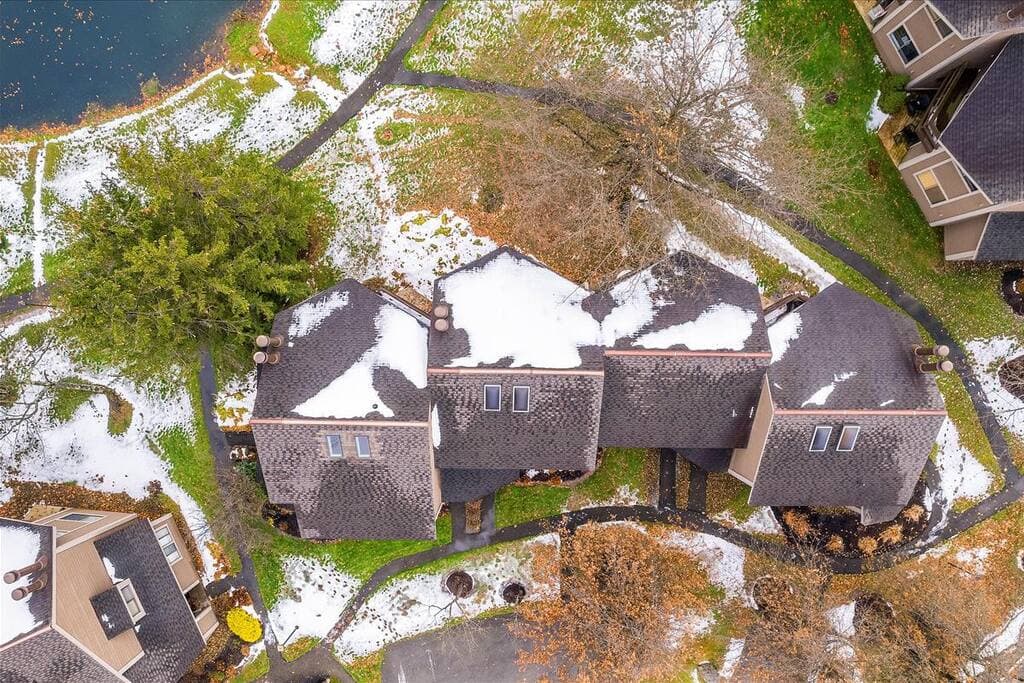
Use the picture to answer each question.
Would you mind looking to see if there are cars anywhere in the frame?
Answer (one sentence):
No, there isn't any car down there.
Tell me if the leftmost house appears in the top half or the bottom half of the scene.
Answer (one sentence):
The leftmost house sits in the bottom half of the picture.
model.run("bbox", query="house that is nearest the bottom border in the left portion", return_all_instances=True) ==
[0,507,222,683]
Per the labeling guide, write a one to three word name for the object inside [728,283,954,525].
house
